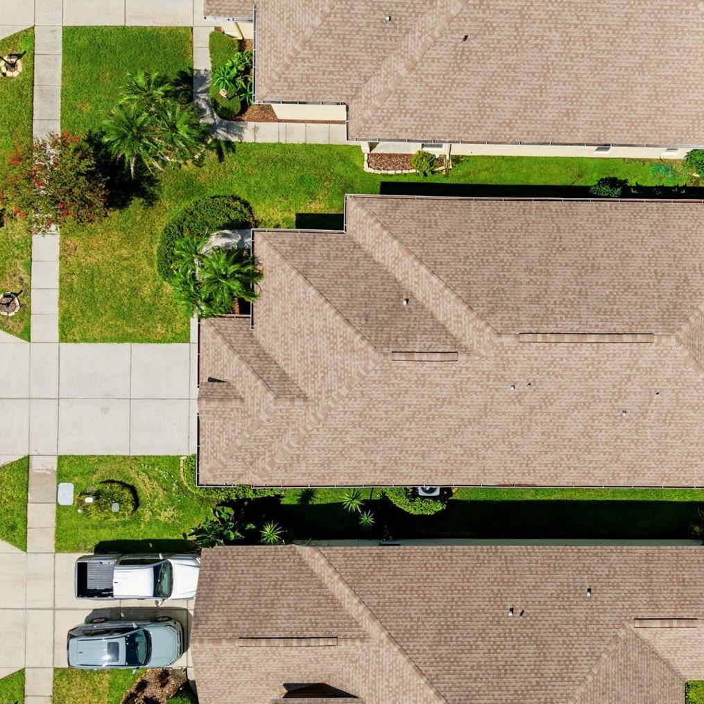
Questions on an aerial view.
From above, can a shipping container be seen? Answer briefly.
No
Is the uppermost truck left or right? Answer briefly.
left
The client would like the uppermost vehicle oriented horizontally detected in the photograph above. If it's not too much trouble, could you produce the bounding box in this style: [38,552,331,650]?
[74,550,199,607]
